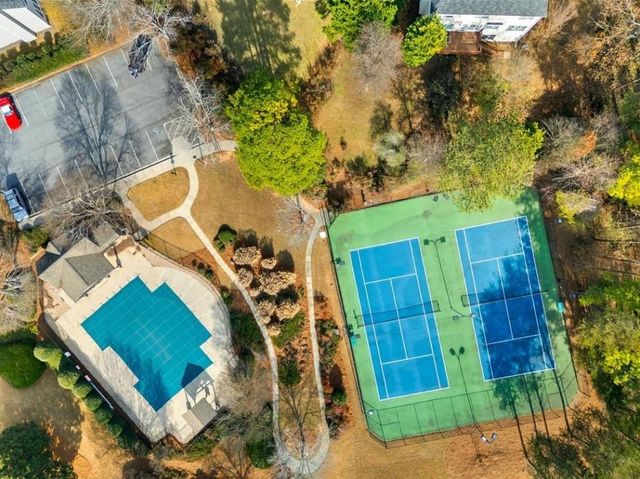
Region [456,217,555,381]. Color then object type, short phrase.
blue tennis court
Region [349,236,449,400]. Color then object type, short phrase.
blue tennis court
